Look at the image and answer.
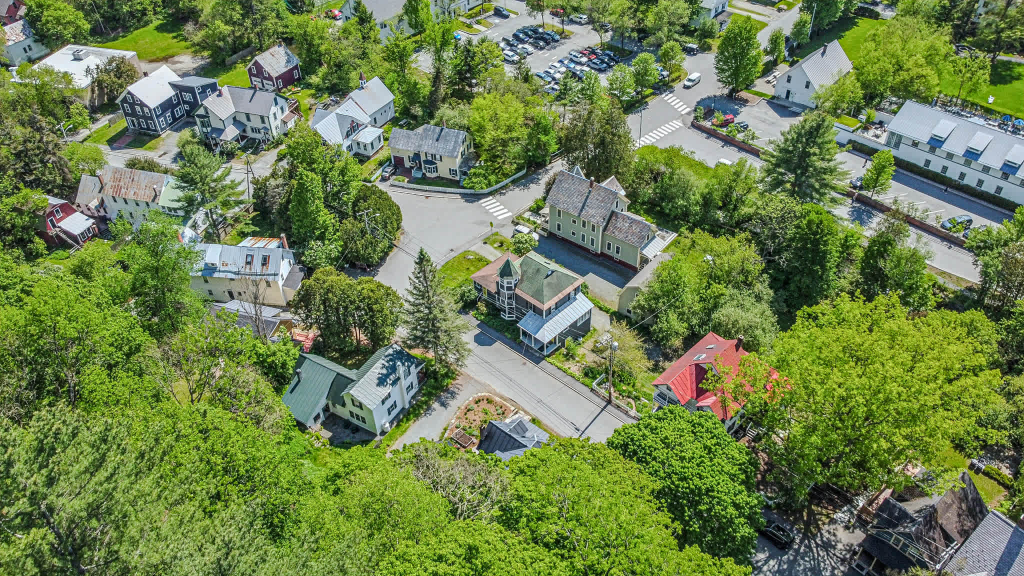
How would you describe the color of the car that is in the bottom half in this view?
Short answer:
black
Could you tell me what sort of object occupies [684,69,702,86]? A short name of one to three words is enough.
vehicle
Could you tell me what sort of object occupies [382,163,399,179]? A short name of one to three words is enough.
car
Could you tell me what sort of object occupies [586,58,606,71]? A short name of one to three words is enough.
vehicle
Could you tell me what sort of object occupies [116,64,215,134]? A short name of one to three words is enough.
house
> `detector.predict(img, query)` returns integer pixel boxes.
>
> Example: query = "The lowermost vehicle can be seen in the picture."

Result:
[756,513,801,552]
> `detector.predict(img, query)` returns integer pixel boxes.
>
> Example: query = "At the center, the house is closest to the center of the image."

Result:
[465,248,600,359]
